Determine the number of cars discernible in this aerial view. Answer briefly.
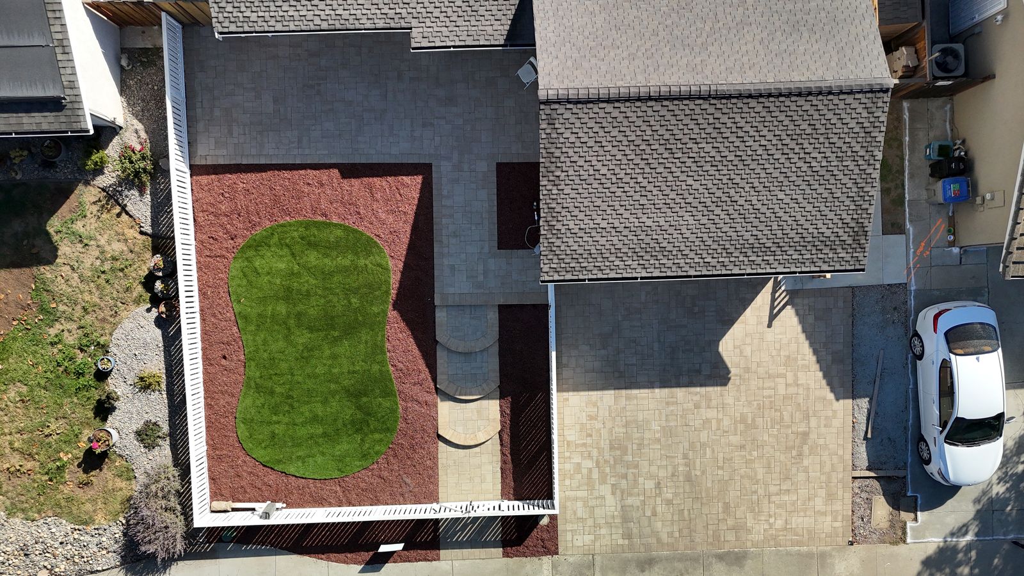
1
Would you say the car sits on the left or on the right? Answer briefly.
right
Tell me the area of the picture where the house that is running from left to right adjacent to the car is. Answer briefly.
top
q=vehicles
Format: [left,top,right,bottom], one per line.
[911,300,1019,485]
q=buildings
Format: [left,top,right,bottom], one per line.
[951,0,1024,283]
[0,0,125,140]
[210,0,893,284]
